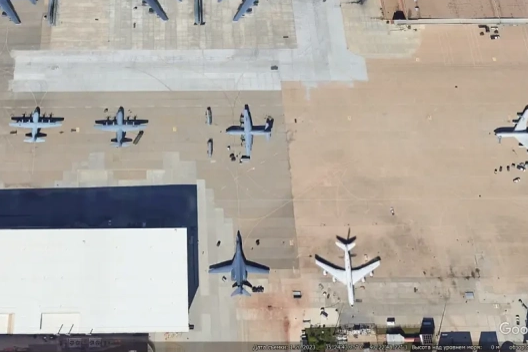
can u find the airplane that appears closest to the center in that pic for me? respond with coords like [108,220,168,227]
[228,108,270,158]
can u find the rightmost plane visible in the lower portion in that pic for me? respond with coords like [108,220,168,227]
[316,238,381,307]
